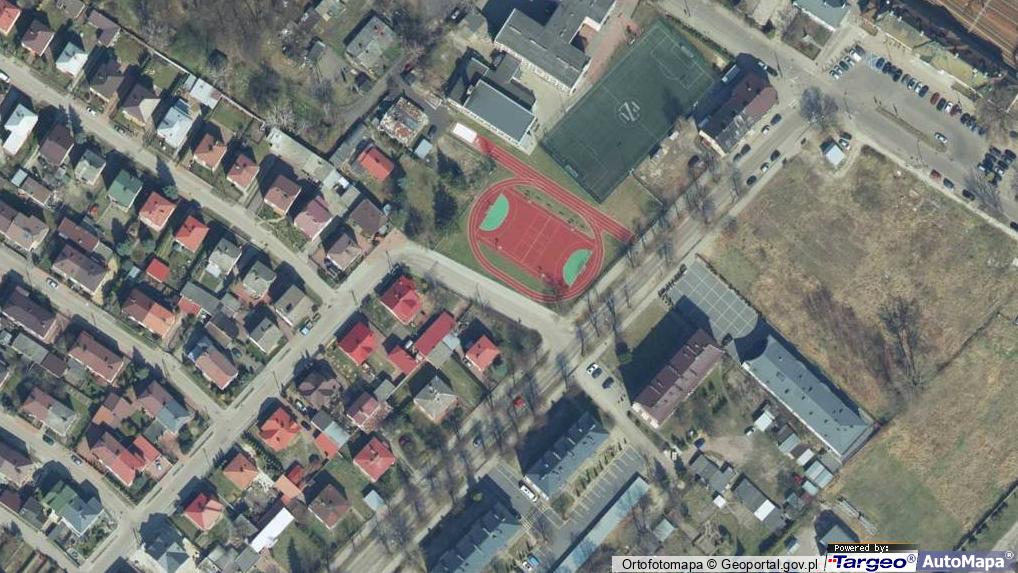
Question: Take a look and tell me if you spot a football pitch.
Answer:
Yes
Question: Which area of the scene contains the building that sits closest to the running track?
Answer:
top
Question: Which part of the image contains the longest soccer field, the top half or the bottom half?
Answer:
top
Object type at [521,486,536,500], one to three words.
vehicle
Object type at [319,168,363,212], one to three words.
building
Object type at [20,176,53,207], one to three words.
shed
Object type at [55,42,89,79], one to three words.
house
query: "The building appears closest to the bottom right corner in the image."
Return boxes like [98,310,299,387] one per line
[819,523,858,562]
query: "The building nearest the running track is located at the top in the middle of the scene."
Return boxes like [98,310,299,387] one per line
[463,79,536,147]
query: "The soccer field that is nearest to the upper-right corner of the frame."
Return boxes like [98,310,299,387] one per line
[543,21,714,202]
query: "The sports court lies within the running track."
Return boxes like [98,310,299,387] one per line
[476,190,596,286]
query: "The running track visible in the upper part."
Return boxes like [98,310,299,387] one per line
[468,134,635,298]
